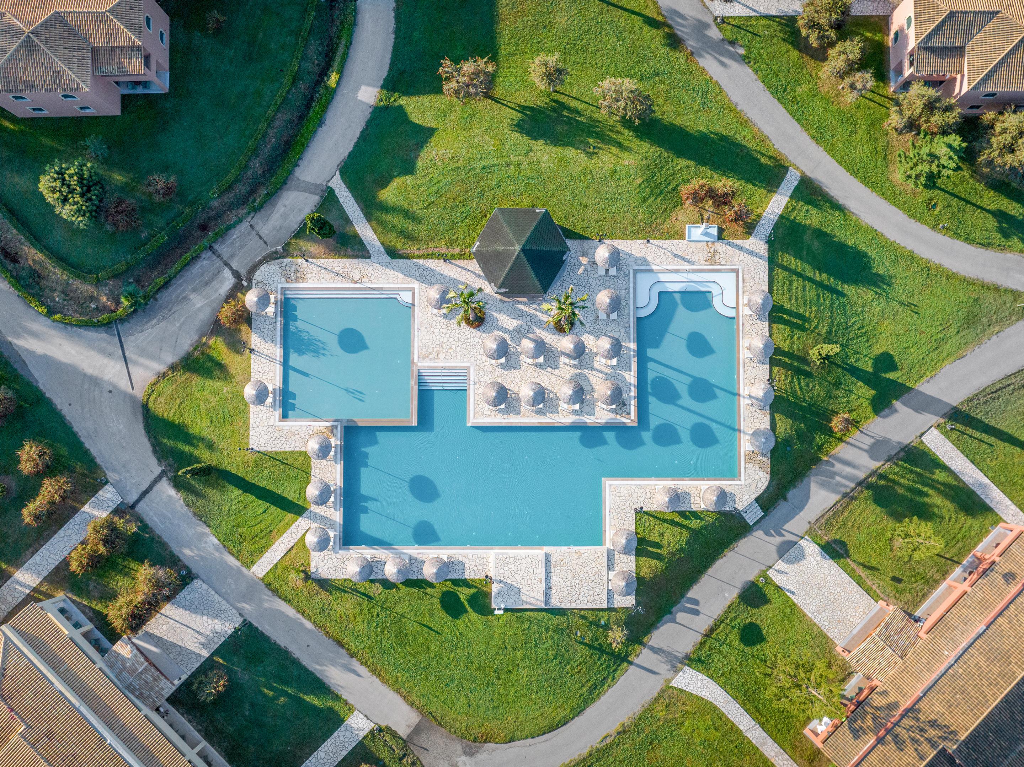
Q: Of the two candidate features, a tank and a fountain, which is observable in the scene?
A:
fountain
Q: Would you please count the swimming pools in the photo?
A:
2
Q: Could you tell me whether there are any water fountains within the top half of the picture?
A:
Yes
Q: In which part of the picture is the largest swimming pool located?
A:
center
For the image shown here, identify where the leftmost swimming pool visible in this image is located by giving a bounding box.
[276,282,418,426]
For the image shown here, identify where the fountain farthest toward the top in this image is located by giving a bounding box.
[686,211,719,240]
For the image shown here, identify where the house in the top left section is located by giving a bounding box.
[0,0,171,114]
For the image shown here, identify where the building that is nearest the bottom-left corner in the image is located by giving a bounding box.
[0,595,227,767]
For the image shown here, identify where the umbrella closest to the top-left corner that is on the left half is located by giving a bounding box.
[246,288,271,313]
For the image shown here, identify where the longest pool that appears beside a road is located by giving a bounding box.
[337,265,744,554]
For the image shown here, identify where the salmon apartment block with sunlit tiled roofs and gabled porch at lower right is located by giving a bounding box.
[803,509,1024,767]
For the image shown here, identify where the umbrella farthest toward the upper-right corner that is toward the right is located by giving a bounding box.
[746,289,771,314]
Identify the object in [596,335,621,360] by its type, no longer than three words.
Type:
umbrella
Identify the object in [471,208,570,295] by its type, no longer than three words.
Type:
gazebo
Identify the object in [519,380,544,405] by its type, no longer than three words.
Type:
umbrella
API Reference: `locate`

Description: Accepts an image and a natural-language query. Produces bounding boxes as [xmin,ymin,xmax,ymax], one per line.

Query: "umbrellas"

[427,285,451,310]
[559,334,584,359]
[747,382,772,407]
[611,569,636,594]
[558,380,583,405]
[424,556,448,581]
[594,243,619,268]
[348,556,373,581]
[701,485,726,510]
[307,480,332,504]
[596,380,621,405]
[519,380,544,405]
[307,434,332,459]
[654,486,679,511]
[595,289,620,314]
[482,381,508,406]
[385,556,410,581]
[244,381,269,406]
[611,528,636,553]
[596,335,621,360]
[306,526,331,551]
[521,334,545,359]
[747,334,772,358]
[483,334,508,359]
[246,288,271,313]
[746,289,771,314]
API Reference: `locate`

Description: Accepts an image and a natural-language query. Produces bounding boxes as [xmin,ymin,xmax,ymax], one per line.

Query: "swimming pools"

[337,265,744,554]
[276,282,418,426]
